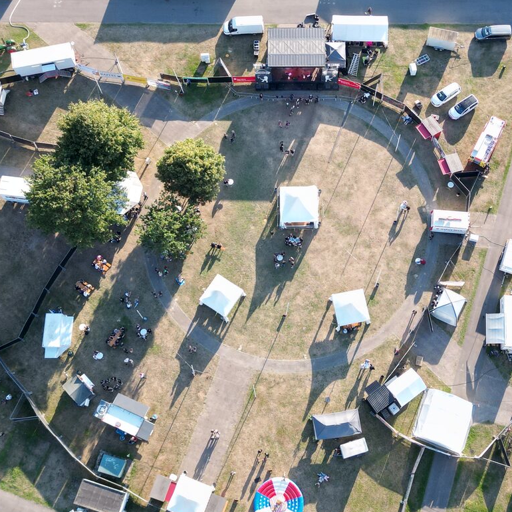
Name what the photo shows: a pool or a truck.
truck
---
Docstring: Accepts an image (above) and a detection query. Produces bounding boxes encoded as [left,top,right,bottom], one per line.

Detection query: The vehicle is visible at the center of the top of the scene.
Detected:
[222,12,265,34]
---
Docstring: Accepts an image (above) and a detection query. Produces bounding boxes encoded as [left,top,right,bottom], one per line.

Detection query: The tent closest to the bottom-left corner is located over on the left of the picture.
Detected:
[62,371,102,409]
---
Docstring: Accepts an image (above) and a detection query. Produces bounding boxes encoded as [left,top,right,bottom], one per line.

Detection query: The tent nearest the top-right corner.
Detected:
[332,15,389,50]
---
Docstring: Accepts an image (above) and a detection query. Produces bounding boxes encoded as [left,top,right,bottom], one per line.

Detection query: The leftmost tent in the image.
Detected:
[42,313,79,359]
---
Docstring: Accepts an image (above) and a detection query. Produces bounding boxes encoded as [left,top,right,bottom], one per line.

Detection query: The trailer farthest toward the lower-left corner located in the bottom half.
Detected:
[91,388,160,443]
